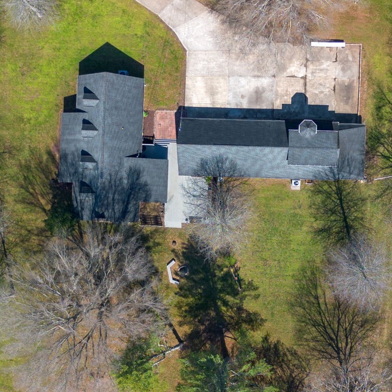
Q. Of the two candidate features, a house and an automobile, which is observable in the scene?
house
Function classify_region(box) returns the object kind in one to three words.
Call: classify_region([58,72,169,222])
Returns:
house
